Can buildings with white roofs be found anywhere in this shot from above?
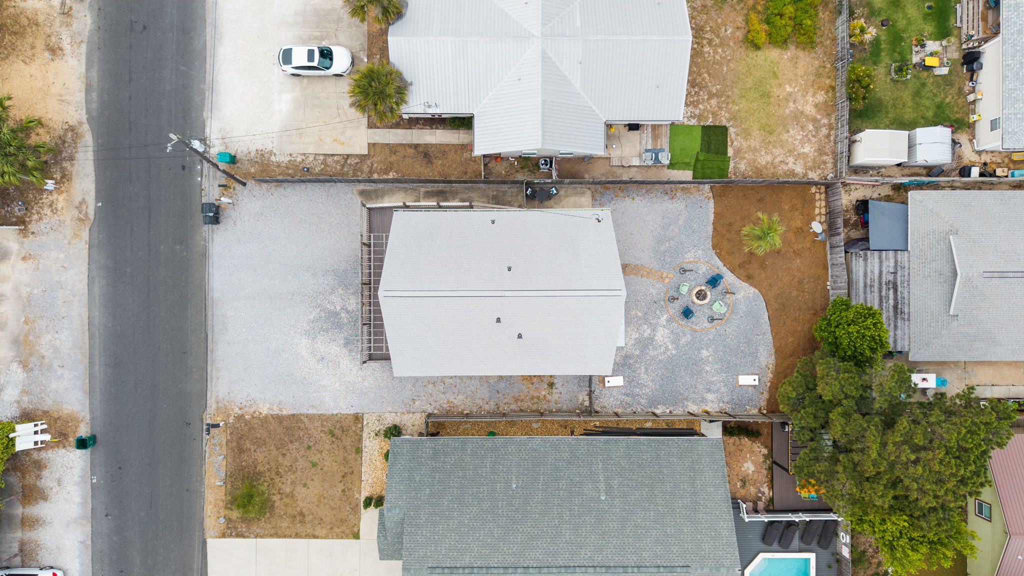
Yes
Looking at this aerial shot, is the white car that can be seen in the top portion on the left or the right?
left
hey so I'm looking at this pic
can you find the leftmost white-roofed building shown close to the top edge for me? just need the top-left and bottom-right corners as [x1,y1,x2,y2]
[387,0,692,158]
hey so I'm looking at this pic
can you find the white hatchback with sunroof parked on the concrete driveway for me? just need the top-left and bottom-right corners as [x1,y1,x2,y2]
[276,39,354,78]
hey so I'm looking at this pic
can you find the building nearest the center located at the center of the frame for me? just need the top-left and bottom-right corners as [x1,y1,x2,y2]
[378,206,626,376]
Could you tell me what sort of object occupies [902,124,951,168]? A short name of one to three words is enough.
shed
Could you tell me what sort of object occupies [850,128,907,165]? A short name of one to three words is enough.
shed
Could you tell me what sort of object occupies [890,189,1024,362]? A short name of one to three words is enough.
house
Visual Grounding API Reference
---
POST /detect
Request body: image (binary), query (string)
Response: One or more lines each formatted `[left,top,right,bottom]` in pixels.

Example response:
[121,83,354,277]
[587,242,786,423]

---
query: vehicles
[276,39,354,78]
[0,566,62,576]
